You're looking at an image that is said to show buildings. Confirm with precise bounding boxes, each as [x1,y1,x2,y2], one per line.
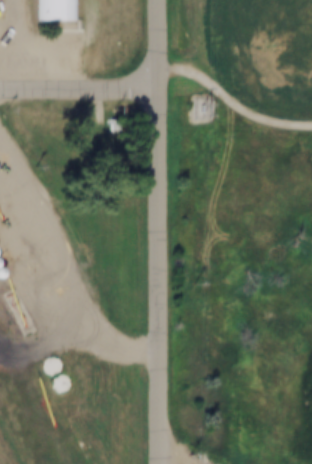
[104,118,122,136]
[37,0,79,23]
